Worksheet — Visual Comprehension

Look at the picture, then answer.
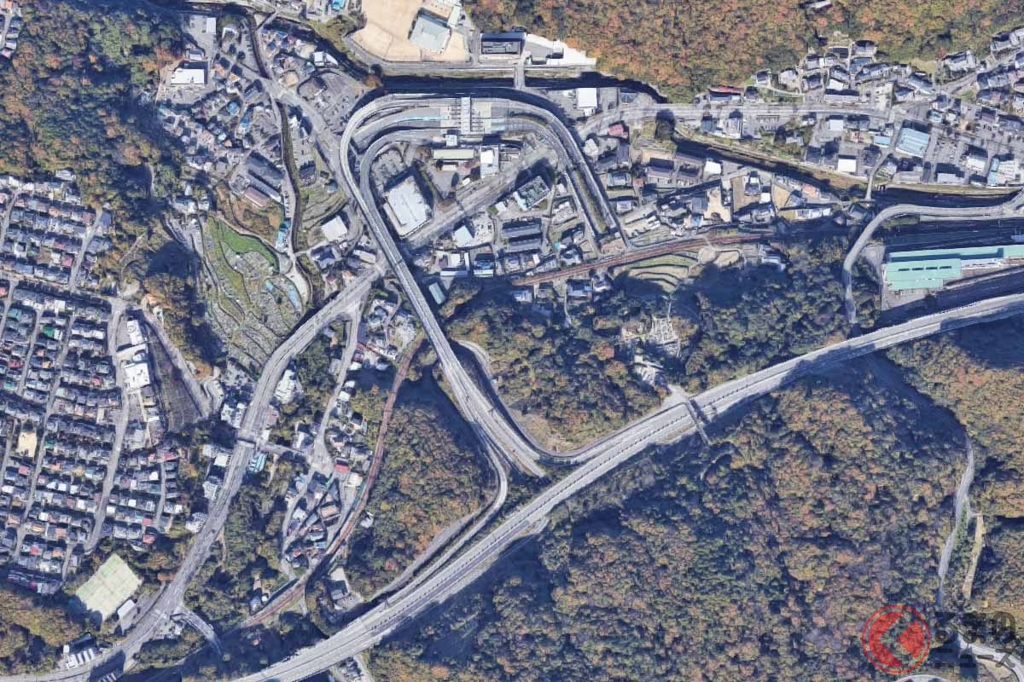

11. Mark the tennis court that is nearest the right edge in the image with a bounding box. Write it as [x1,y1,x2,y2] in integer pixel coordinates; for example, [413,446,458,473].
[76,554,142,623]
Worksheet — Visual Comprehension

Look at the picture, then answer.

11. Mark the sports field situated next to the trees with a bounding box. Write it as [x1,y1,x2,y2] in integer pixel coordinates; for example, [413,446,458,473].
[353,0,468,62]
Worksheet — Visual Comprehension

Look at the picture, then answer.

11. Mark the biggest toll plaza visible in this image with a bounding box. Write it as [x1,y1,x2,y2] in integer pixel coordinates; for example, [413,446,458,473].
[425,95,506,136]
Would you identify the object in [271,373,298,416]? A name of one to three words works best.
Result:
house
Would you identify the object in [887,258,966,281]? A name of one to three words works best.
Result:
shed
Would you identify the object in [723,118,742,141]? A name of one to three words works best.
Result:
building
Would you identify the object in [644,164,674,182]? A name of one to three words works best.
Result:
house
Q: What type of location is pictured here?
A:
residential area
